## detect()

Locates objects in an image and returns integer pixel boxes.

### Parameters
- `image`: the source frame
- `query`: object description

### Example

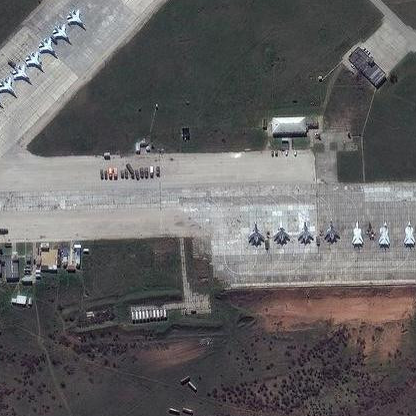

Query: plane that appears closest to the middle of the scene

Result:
[248,222,264,245]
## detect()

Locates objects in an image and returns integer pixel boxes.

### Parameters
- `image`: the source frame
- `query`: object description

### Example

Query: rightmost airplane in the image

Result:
[404,223,416,245]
